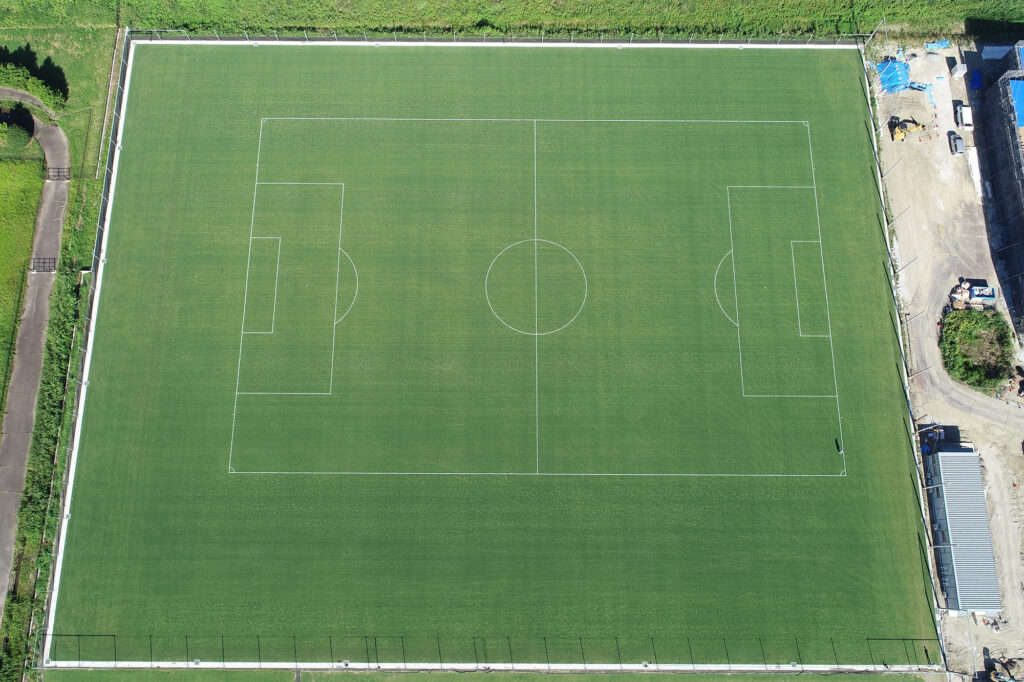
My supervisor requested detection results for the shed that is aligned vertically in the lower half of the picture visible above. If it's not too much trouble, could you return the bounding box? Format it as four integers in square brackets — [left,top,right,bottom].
[928,452,1002,611]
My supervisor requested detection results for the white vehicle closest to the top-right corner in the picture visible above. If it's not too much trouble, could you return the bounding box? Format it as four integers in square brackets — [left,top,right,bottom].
[956,103,974,131]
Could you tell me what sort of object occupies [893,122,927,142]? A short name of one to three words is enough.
work vehicle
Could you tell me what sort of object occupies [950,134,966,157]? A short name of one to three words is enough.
car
